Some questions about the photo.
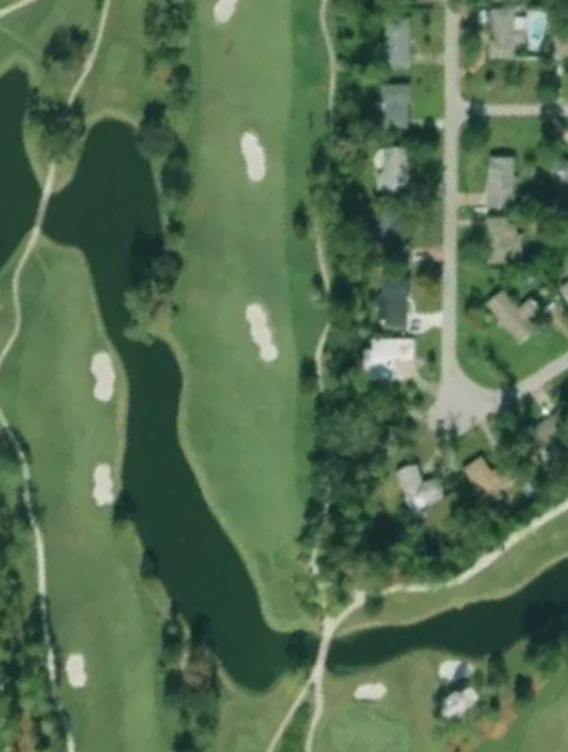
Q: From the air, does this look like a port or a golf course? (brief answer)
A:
golf course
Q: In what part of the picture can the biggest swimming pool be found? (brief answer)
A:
top right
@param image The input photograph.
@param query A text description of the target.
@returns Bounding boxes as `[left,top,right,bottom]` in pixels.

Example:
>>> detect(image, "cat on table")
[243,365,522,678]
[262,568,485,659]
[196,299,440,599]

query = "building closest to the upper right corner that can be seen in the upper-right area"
[488,10,530,59]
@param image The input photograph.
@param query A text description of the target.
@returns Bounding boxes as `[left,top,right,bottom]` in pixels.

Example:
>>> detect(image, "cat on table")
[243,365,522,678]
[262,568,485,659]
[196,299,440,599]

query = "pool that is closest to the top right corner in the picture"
[527,10,547,51]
